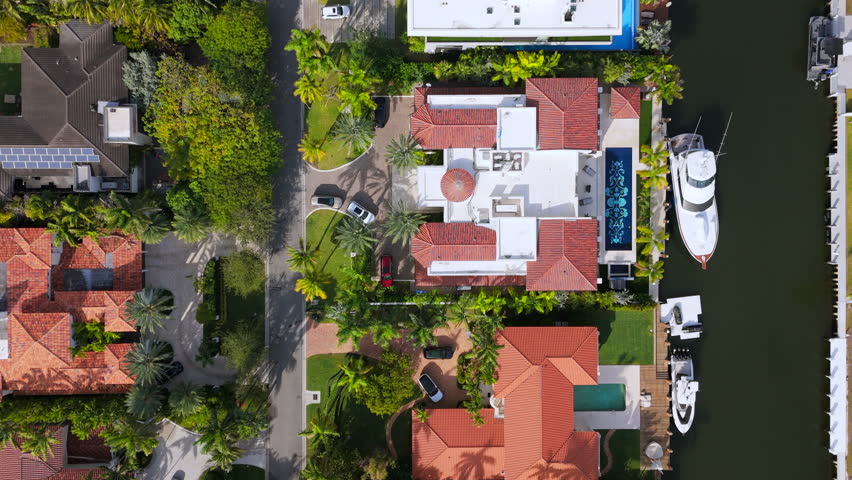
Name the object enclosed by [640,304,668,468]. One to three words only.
pier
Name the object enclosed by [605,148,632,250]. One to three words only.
swimming pool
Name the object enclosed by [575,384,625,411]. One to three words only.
swimming pool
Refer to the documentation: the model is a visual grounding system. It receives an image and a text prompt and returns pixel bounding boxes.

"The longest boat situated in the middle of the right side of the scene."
[671,112,726,265]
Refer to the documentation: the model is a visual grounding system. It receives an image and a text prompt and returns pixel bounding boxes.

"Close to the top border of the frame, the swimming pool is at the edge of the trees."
[503,0,638,52]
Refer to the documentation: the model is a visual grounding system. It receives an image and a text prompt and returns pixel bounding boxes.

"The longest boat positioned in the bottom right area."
[672,352,699,433]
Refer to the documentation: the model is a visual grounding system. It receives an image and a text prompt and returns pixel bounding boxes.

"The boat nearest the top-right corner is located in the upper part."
[805,15,842,91]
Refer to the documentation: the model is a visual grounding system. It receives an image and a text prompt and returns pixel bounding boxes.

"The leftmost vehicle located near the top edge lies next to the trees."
[320,5,349,21]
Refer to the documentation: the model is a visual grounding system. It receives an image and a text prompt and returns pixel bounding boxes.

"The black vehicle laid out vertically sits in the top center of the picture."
[373,97,387,127]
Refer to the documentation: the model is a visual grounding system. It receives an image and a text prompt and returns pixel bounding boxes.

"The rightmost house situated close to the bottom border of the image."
[412,328,600,480]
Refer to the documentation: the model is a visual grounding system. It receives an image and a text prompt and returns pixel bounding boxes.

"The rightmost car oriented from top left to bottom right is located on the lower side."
[418,373,443,401]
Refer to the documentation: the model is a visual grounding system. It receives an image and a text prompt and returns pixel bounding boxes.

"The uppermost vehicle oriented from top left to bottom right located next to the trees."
[347,200,375,225]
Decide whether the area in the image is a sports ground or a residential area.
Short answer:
residential area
